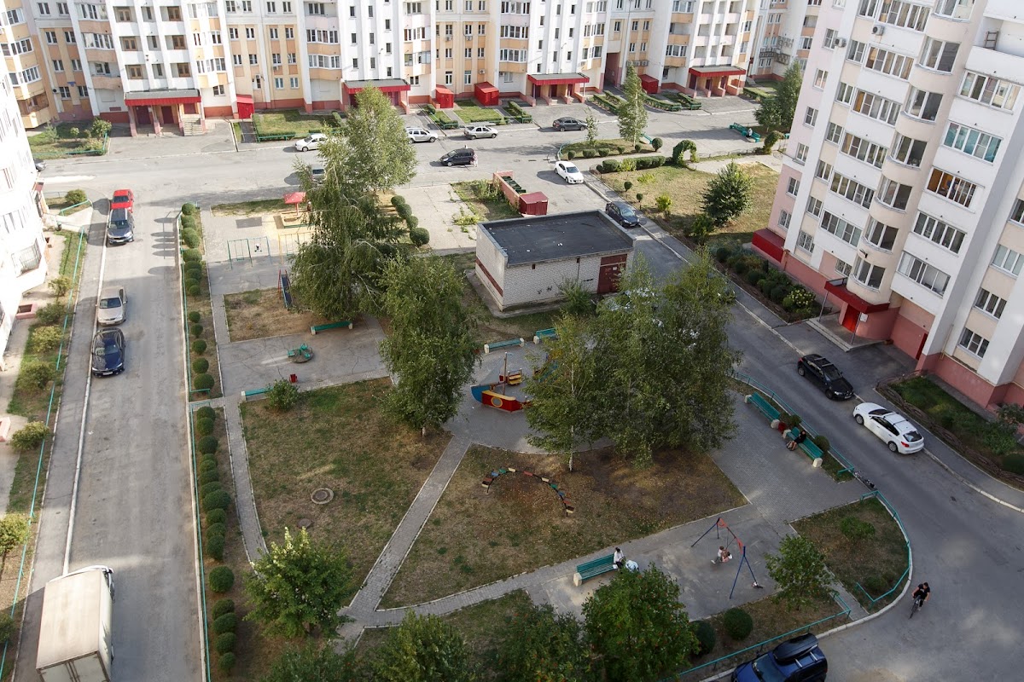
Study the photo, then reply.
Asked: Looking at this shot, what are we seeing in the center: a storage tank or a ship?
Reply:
ship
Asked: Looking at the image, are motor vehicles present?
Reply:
Yes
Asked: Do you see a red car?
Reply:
Yes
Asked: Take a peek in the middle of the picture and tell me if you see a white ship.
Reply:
No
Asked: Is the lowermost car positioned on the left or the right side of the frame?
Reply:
right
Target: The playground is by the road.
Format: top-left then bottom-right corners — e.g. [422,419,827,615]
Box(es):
[200,191,398,396]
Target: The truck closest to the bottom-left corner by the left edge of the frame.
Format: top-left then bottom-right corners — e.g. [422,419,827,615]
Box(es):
[32,558,121,682]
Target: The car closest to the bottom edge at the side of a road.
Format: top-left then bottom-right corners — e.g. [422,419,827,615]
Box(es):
[723,631,837,682]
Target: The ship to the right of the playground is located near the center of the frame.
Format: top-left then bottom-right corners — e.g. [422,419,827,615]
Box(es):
[463,354,545,412]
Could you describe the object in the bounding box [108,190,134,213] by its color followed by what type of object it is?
red car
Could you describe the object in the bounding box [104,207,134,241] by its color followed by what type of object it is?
gray car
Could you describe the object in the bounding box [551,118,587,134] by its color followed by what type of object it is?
gray car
